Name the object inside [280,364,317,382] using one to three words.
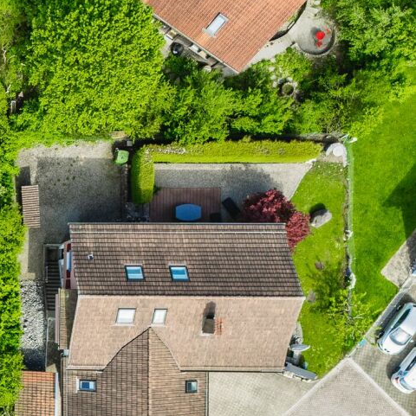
building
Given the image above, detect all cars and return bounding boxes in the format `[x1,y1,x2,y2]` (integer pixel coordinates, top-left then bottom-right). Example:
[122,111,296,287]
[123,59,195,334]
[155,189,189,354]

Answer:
[379,292,416,353]
[391,337,416,396]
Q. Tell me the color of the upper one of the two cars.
white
